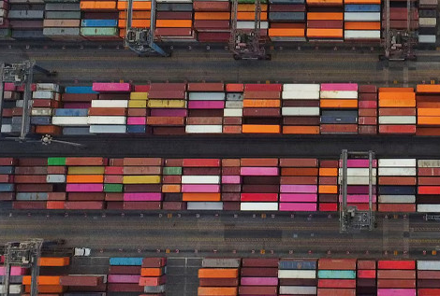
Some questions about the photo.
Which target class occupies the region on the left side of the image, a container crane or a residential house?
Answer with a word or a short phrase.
container crane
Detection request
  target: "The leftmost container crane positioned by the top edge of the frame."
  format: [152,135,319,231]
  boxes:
[123,0,176,60]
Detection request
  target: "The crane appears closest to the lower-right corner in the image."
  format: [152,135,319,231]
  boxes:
[340,148,380,232]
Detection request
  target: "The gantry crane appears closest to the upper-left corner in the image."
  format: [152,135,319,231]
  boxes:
[0,61,63,143]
